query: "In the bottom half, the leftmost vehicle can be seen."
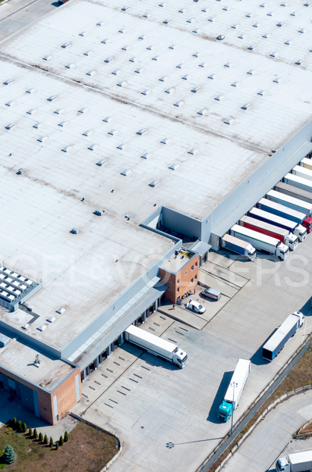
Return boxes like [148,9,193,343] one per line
[121,328,191,368]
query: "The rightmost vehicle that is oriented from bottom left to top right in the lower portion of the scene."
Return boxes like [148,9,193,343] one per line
[261,311,304,363]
